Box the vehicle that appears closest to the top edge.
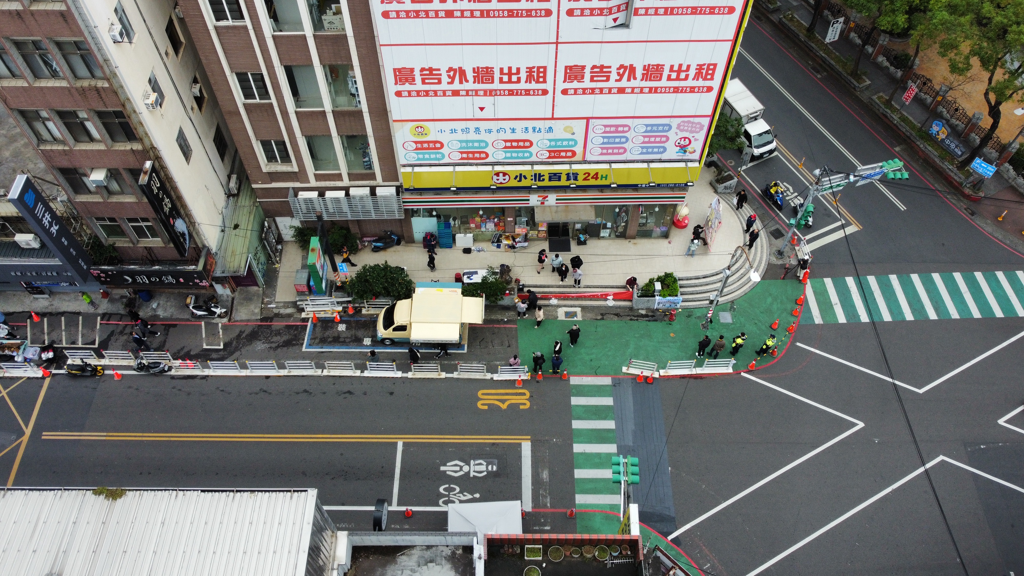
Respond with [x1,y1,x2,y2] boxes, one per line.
[720,77,778,164]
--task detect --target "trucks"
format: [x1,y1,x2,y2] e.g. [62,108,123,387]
[720,77,778,164]
[372,278,486,346]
